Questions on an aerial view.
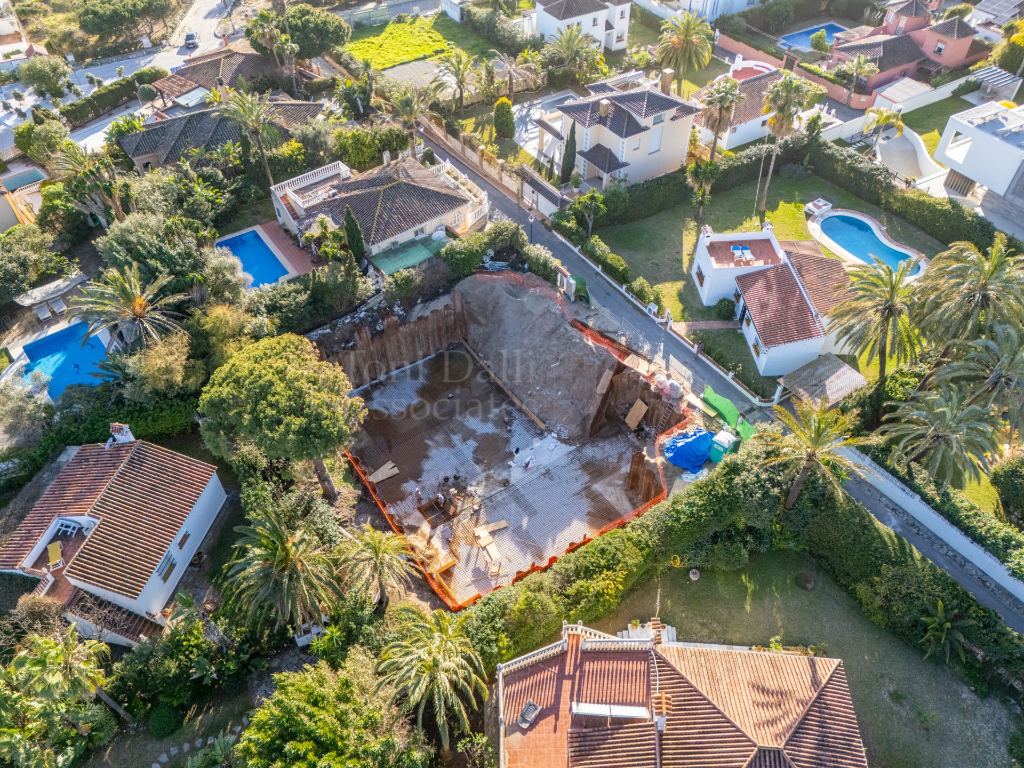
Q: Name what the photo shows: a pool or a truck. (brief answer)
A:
pool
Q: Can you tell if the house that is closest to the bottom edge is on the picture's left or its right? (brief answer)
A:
right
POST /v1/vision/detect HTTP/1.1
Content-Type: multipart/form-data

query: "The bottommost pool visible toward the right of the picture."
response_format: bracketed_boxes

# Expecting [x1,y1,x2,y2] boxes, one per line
[807,207,939,287]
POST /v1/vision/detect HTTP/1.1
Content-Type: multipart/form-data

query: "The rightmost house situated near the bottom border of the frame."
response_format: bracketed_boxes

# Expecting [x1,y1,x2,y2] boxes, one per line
[493,581,871,768]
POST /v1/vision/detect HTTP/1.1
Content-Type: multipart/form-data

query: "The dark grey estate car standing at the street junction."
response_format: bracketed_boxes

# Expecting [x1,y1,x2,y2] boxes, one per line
[183,25,201,46]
